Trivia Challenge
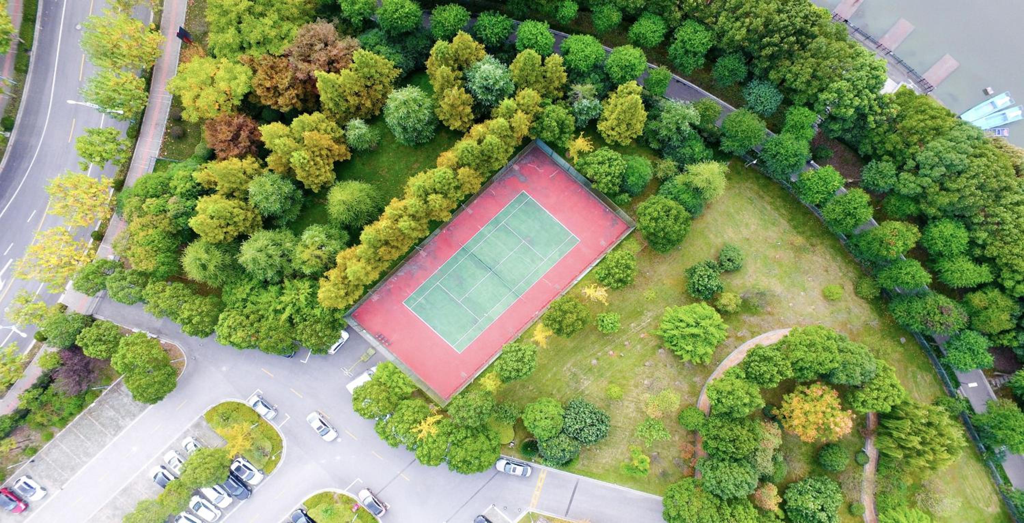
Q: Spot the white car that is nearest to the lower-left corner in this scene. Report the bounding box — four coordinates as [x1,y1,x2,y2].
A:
[13,477,48,501]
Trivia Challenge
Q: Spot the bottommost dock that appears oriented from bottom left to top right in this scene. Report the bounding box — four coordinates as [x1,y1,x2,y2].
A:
[922,53,960,88]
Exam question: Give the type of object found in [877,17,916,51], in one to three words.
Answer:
pier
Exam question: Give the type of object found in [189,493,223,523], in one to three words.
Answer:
car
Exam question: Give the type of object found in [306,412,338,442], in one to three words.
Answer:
car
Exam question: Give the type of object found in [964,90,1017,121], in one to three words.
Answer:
boat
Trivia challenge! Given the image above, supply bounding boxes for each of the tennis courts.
[351,146,629,400]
